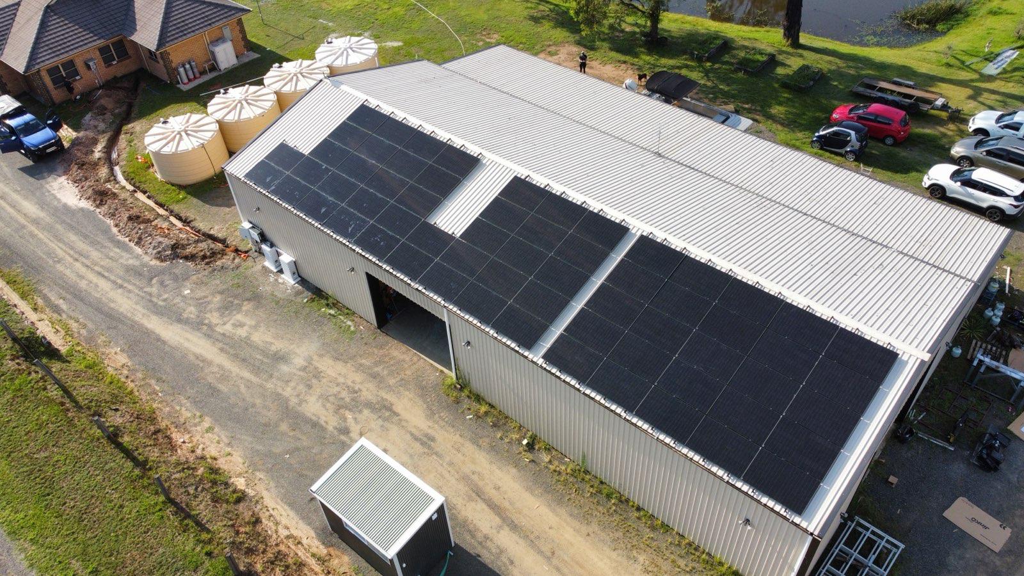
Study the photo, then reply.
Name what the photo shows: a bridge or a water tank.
water tank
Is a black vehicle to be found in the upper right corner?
Yes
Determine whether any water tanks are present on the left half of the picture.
Yes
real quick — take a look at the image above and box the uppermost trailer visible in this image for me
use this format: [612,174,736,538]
[851,71,960,116]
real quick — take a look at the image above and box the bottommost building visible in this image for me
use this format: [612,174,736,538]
[311,439,452,576]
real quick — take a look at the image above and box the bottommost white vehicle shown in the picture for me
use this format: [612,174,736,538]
[923,163,1024,220]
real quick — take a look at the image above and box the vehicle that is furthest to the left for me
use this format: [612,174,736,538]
[0,90,71,162]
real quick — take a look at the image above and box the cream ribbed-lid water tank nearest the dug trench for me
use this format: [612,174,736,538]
[143,110,233,188]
